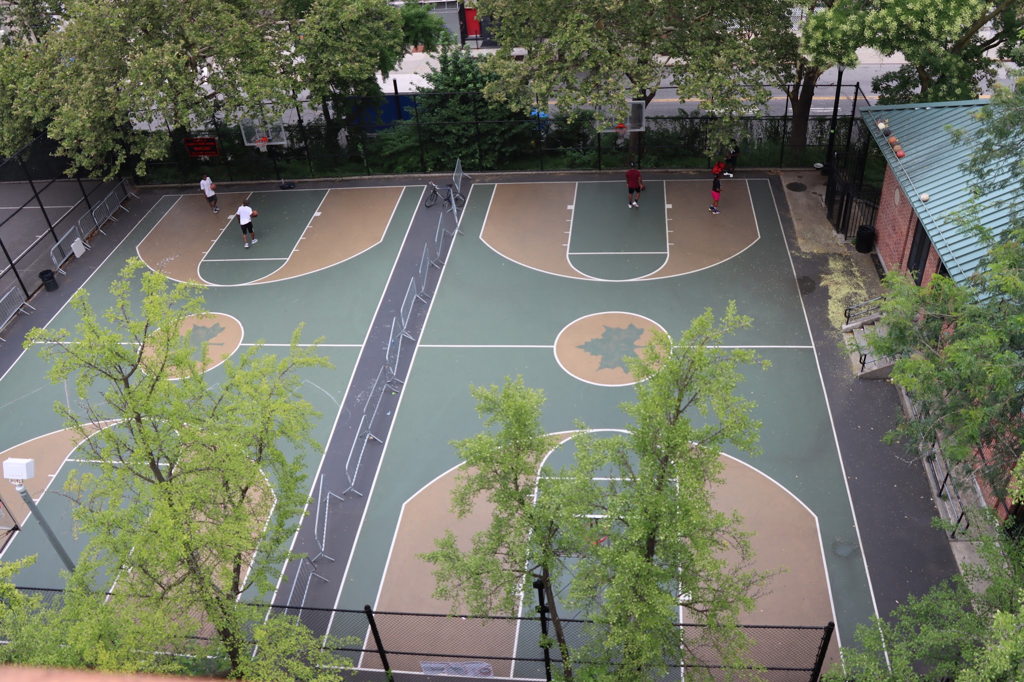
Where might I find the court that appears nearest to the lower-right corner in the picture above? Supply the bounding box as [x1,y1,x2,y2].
[332,179,885,682]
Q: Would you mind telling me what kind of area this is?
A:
sports ground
